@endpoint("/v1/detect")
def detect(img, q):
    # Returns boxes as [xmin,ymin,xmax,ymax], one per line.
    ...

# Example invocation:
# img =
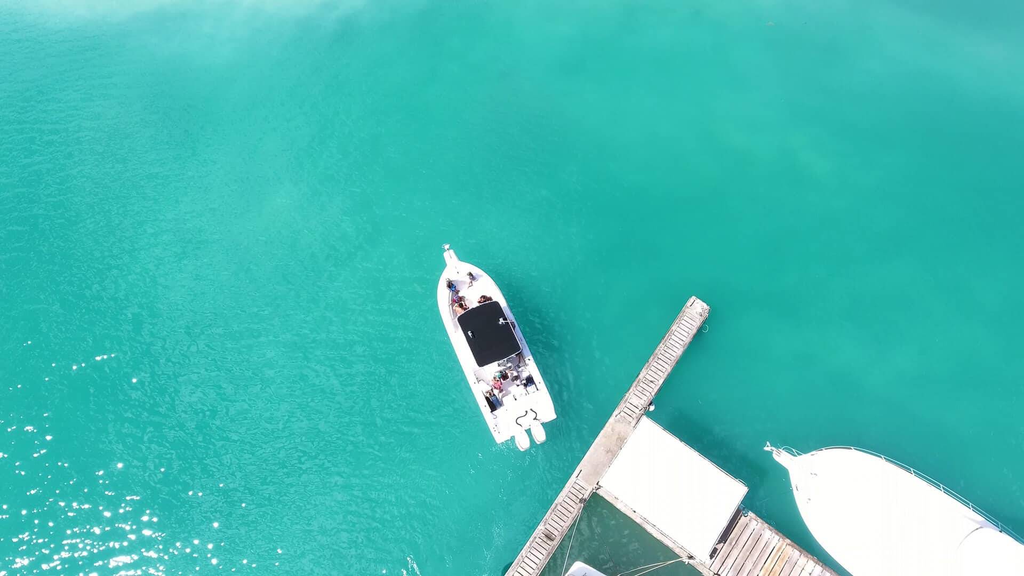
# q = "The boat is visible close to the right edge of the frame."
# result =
[765,441,1024,576]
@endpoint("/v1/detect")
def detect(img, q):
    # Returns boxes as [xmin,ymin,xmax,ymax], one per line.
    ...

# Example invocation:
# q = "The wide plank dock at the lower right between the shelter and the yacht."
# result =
[707,507,844,576]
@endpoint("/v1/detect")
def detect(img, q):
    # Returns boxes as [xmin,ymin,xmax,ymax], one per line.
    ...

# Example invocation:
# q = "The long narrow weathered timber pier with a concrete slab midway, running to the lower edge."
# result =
[505,297,709,576]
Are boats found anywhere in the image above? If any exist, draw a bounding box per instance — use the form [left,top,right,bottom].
[765,441,1024,576]
[561,560,595,576]
[436,244,556,451]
